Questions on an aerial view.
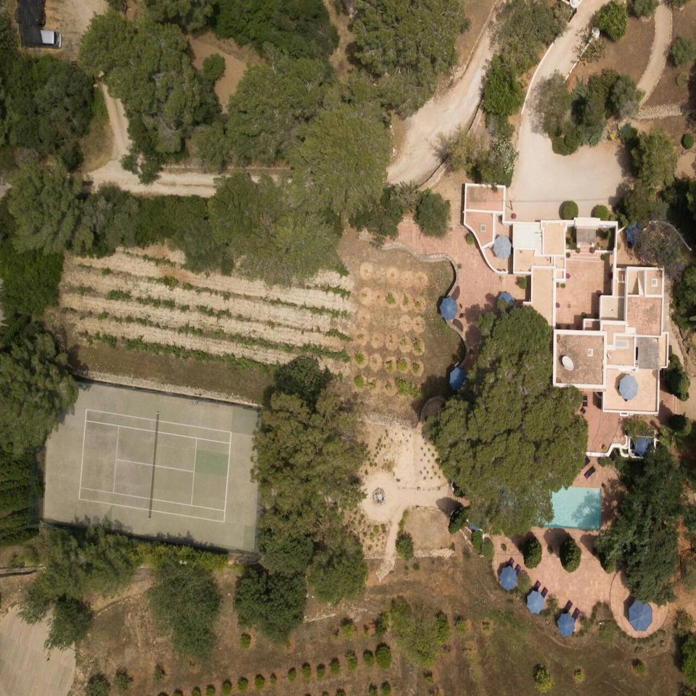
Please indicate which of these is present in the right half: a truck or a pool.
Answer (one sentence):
You can see a pool in the right half.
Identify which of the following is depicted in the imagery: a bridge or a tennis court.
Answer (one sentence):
Looking from above, you can make out a tennis court.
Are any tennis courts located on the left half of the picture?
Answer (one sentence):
Yes, a tennis court shows up on the left half of the picture.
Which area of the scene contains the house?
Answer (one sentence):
The house appears toward the right of the photo.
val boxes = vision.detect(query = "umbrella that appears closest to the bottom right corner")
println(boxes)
[629,601,651,629]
